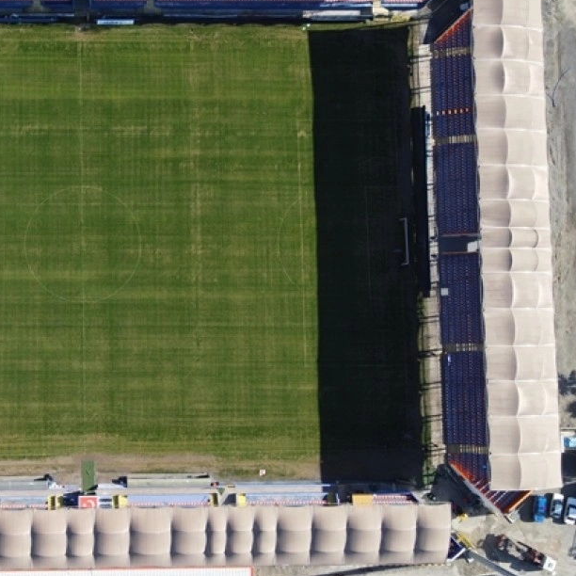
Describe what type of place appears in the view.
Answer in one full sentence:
It's a sports ground.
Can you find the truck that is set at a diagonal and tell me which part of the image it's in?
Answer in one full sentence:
The truck that is set at a diagonal sits in the bottom right section of the image.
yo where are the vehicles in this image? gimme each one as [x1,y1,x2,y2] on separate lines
[501,535,563,576]
[533,495,548,521]
[562,496,576,523]
[548,491,564,518]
